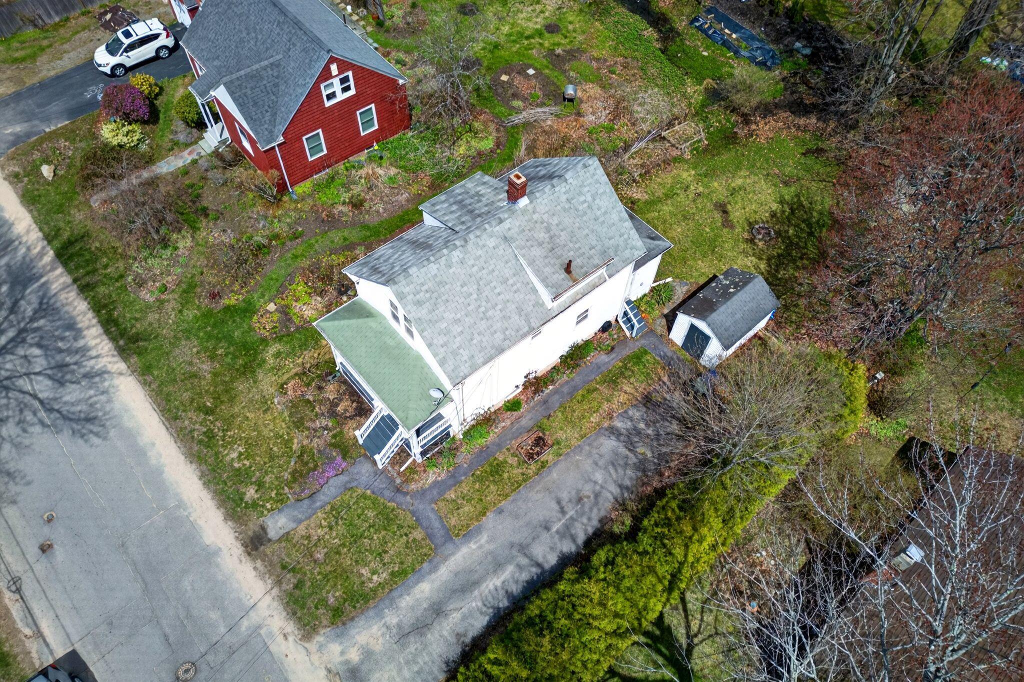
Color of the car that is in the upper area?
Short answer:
white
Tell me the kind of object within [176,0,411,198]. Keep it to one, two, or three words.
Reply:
house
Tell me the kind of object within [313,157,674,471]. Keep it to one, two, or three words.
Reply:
house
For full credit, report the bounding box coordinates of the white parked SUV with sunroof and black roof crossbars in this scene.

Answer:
[84,13,175,76]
